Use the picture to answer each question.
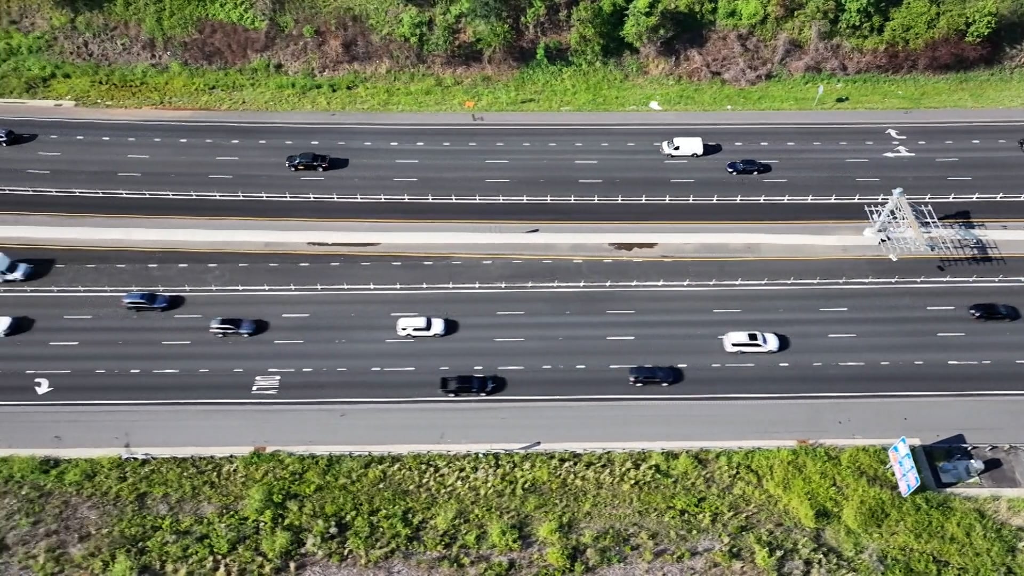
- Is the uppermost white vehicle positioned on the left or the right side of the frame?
right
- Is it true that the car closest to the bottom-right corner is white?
No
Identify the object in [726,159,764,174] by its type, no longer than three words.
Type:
car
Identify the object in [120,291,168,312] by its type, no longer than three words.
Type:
car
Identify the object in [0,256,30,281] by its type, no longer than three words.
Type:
vehicle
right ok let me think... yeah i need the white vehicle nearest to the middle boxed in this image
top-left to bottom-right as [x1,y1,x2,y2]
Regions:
[398,315,446,338]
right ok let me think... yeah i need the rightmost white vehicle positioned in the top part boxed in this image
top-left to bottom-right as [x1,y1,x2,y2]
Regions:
[661,137,705,157]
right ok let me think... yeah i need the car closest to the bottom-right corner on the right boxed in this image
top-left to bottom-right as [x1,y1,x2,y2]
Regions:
[965,301,1015,321]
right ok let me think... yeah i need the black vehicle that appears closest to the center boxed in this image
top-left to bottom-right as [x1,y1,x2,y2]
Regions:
[437,373,492,397]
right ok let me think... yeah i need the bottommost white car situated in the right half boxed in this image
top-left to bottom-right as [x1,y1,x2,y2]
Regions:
[725,330,782,353]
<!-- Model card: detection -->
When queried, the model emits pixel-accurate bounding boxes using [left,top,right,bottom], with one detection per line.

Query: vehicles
[627,363,674,386]
[725,330,782,353]
[726,159,764,174]
[0,256,30,281]
[398,315,446,338]
[437,373,492,397]
[0,317,15,336]
[661,137,705,157]
[120,291,168,312]
[965,301,1015,321]
[284,152,331,171]
[208,315,256,337]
